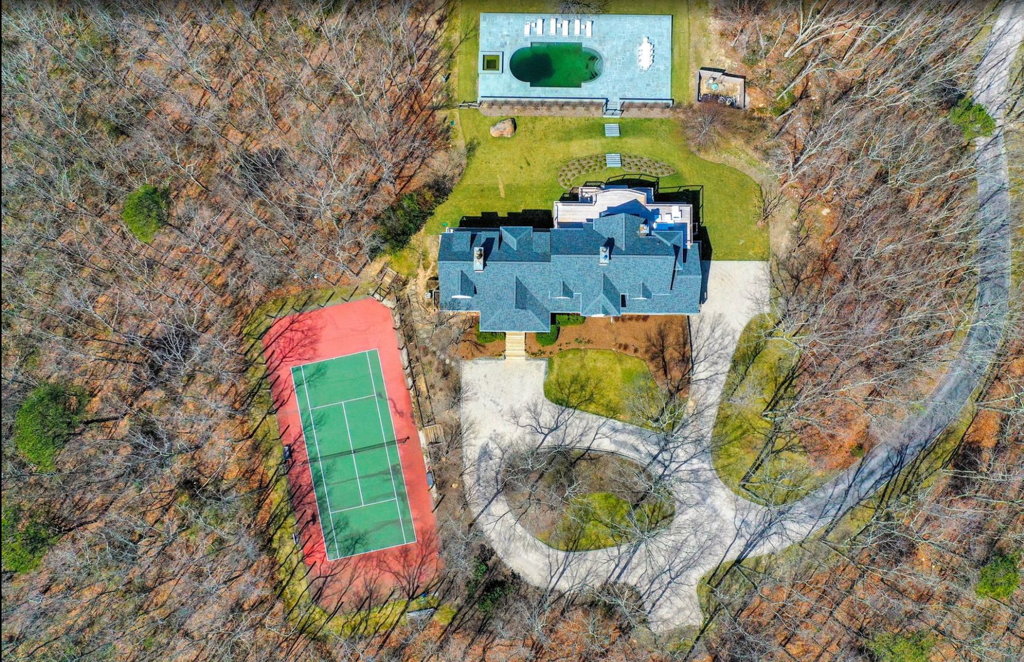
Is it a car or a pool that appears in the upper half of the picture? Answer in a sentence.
Visible in the upper half of the picture is a pool.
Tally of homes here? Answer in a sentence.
I count just 1 home.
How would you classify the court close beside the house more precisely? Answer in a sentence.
The court close beside the house is a tennis court.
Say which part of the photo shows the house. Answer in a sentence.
You can find the house in the center area of the picture.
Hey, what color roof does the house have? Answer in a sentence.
From above, the roof of the house looks blue.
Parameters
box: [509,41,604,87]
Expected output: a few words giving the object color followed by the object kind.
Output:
green swimming pool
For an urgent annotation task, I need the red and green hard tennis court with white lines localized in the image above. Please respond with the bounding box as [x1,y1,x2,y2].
[262,297,444,614]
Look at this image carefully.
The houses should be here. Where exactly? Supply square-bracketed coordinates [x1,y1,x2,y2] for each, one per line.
[438,215,701,332]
